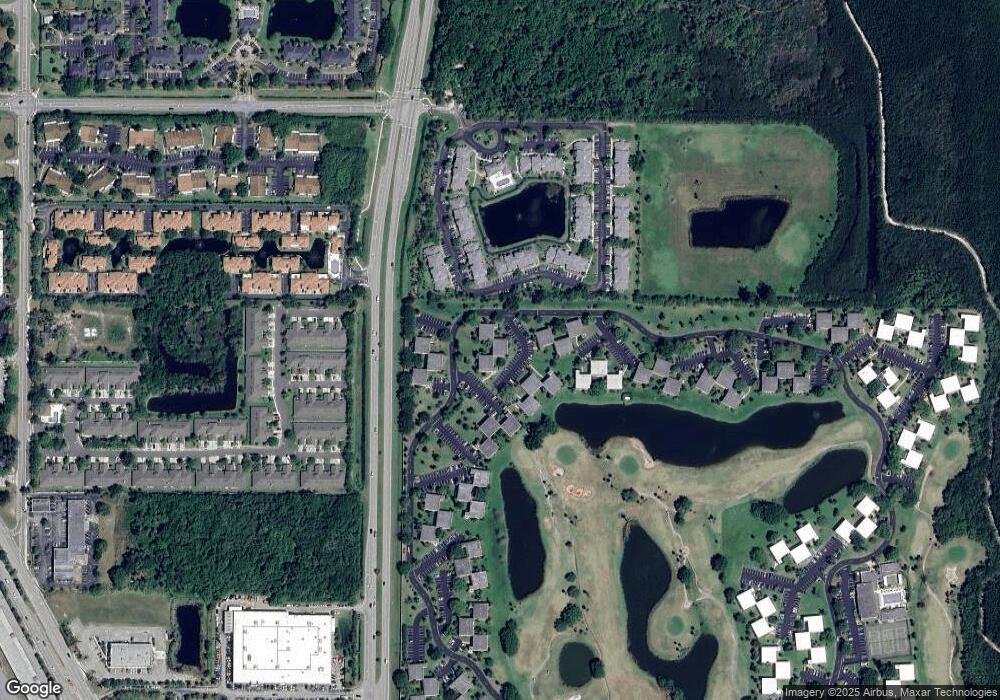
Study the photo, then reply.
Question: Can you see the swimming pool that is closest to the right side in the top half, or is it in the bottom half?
bottom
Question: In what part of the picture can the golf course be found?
bottom right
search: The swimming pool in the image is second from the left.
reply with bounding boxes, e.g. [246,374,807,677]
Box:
[239,6,260,20]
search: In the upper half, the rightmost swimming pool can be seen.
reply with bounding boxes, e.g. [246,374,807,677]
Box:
[491,173,514,190]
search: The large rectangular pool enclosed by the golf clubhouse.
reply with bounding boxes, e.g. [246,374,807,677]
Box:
[879,589,906,608]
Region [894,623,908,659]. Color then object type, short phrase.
gray tennis court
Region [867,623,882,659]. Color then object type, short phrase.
gray tennis court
